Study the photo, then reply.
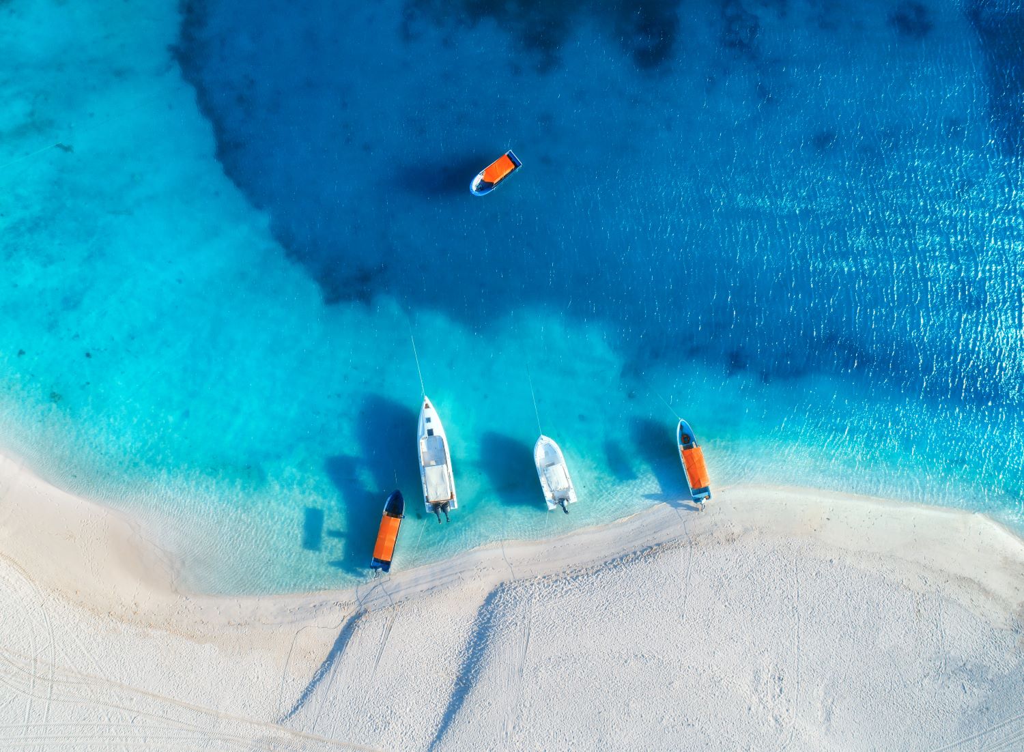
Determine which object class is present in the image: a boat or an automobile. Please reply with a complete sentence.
Visible in the photo is a boat.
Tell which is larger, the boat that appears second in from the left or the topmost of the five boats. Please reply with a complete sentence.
The larger object is the boat that appears second in from the left, with the topmost of the five boats being the smaller of the pair.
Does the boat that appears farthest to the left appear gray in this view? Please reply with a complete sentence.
No, the color of the boat that appears farthest to the left is orange.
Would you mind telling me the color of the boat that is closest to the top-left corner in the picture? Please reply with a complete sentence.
The color of the boat that is closest to the top-left corner is orange.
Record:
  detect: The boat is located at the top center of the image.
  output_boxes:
[470,150,523,196]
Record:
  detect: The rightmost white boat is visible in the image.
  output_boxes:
[534,434,577,512]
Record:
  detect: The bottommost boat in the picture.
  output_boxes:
[371,489,403,576]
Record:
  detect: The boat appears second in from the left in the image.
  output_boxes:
[416,395,457,521]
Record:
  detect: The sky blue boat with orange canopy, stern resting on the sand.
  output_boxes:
[677,419,712,508]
